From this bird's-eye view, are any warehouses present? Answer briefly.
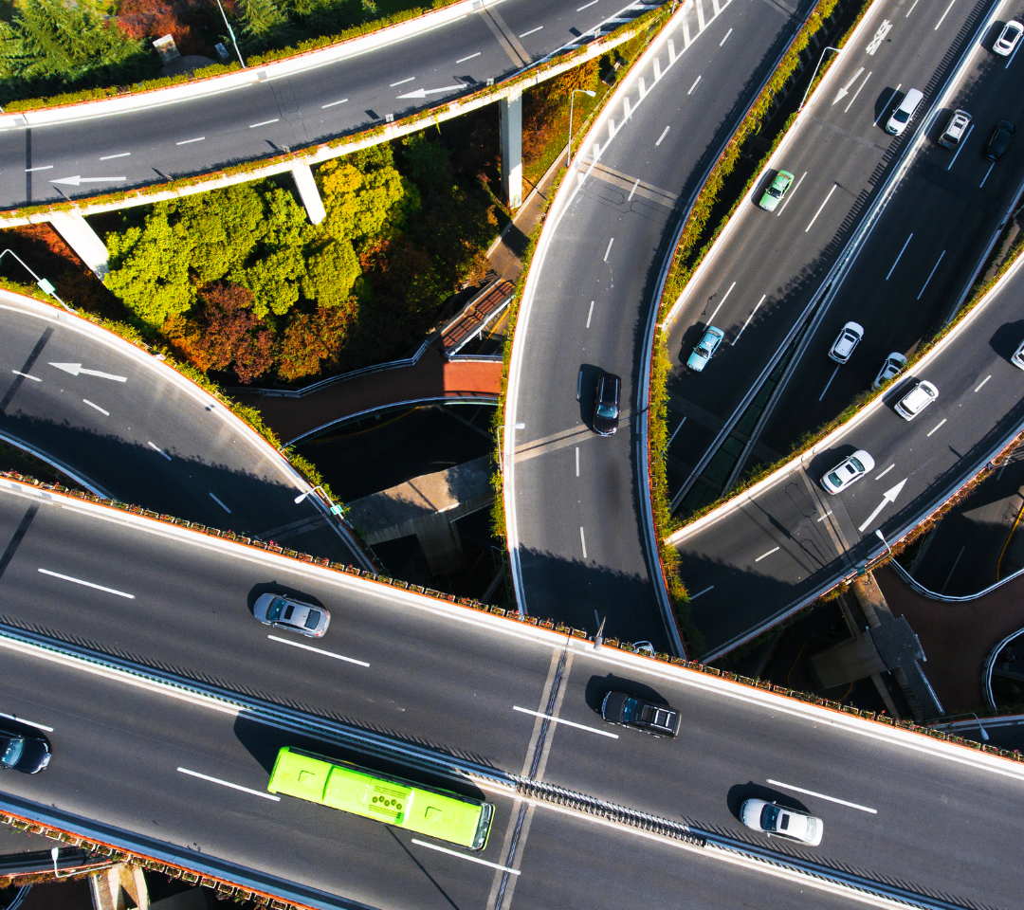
No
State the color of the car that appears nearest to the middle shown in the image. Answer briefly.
black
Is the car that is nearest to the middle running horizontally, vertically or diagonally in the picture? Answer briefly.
vertically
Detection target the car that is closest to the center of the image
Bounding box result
[590,374,623,440]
